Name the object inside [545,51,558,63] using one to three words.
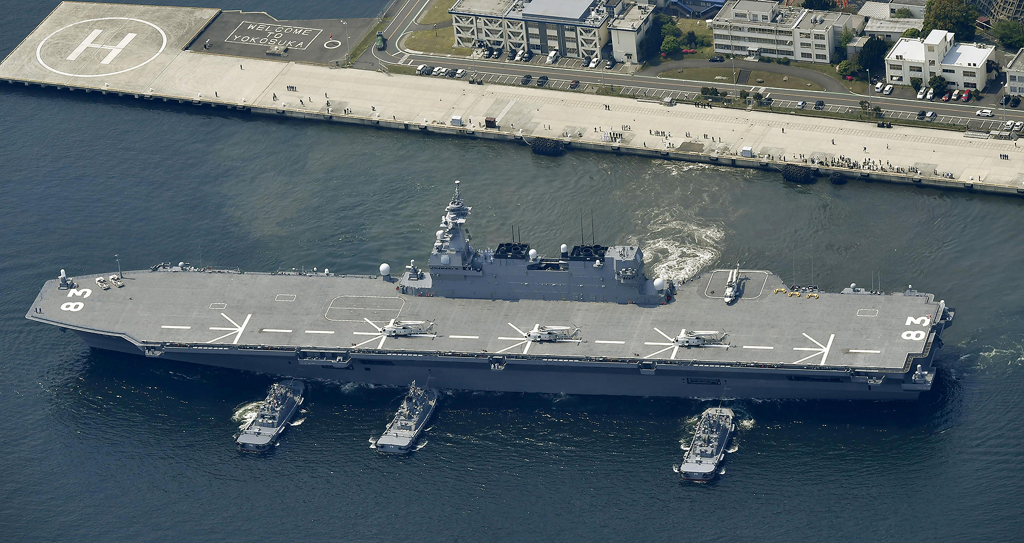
vehicle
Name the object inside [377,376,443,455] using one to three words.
boat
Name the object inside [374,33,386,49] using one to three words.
vehicle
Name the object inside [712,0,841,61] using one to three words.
building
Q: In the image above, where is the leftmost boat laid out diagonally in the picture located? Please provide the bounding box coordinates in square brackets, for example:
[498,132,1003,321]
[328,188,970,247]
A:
[234,371,303,452]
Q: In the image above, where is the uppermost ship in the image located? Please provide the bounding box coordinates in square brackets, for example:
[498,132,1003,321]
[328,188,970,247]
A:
[26,180,956,399]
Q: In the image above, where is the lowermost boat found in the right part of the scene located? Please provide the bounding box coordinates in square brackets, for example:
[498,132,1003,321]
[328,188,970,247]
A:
[679,400,735,483]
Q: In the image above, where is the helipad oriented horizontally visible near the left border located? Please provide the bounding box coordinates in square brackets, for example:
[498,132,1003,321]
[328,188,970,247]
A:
[0,0,220,96]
